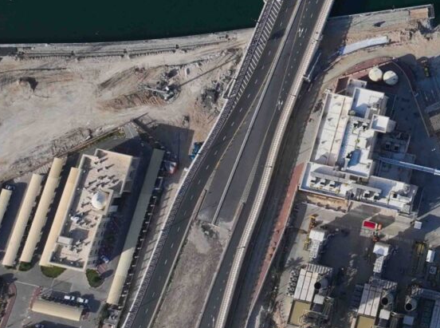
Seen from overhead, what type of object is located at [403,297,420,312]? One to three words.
chimney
